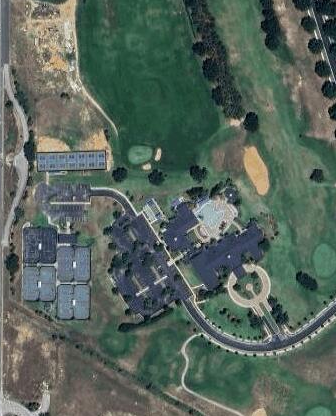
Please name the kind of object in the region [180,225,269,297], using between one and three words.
building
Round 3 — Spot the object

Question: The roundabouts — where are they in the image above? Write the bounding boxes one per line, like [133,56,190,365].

[228,262,271,308]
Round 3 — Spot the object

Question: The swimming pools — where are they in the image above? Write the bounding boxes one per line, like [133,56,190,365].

[194,195,236,242]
